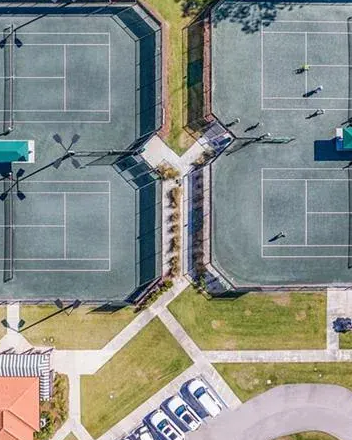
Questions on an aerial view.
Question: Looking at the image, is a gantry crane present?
No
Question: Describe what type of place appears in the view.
sports ground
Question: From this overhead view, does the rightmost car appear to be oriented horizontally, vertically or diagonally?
diagonally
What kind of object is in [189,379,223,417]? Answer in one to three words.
car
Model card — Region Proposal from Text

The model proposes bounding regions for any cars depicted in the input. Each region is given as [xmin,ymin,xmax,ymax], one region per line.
[150,408,184,440]
[189,379,223,417]
[168,394,202,433]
